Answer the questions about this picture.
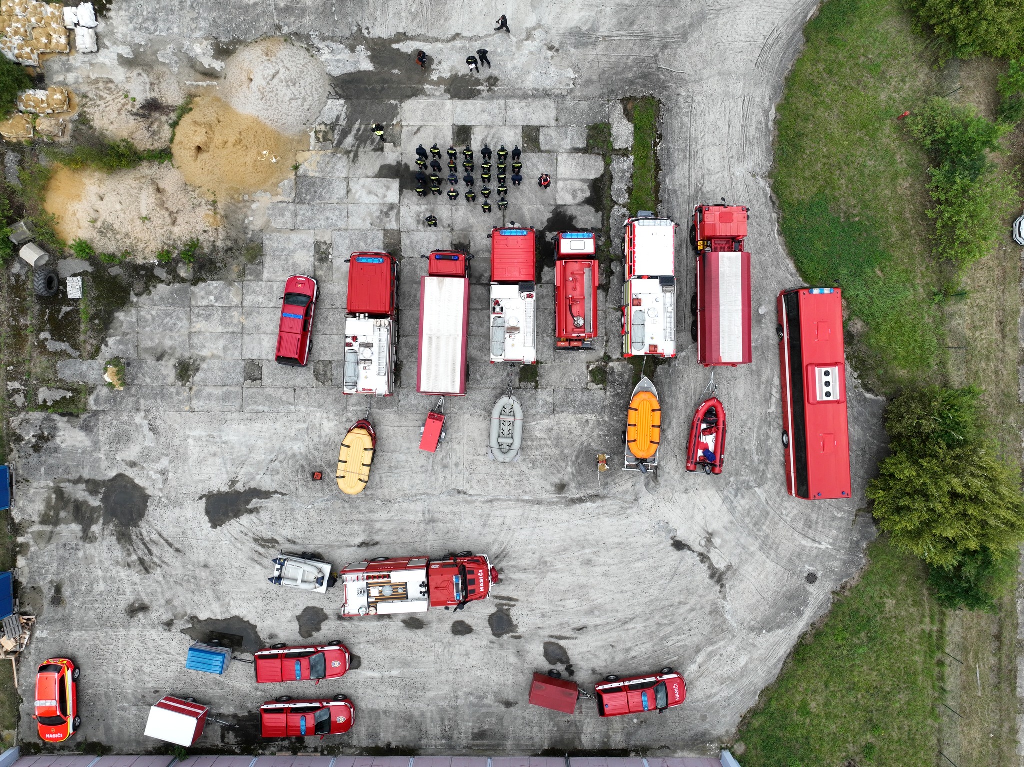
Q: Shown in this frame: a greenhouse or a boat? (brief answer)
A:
boat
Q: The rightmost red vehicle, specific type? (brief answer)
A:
bus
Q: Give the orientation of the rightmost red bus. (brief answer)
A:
up and down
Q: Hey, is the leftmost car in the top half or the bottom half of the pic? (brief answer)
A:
bottom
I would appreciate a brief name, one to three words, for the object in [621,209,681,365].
truck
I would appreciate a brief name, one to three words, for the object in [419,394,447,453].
trailer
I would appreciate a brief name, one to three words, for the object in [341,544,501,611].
truck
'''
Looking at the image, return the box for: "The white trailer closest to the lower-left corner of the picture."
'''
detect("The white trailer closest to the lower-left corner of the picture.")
[144,692,234,747]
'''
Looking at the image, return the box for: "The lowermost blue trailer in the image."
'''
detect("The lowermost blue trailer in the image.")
[186,638,256,674]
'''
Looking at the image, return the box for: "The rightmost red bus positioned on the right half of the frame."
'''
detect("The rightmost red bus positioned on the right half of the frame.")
[777,281,849,498]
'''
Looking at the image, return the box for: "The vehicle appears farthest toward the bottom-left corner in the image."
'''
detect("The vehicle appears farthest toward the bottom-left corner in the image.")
[34,654,83,738]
